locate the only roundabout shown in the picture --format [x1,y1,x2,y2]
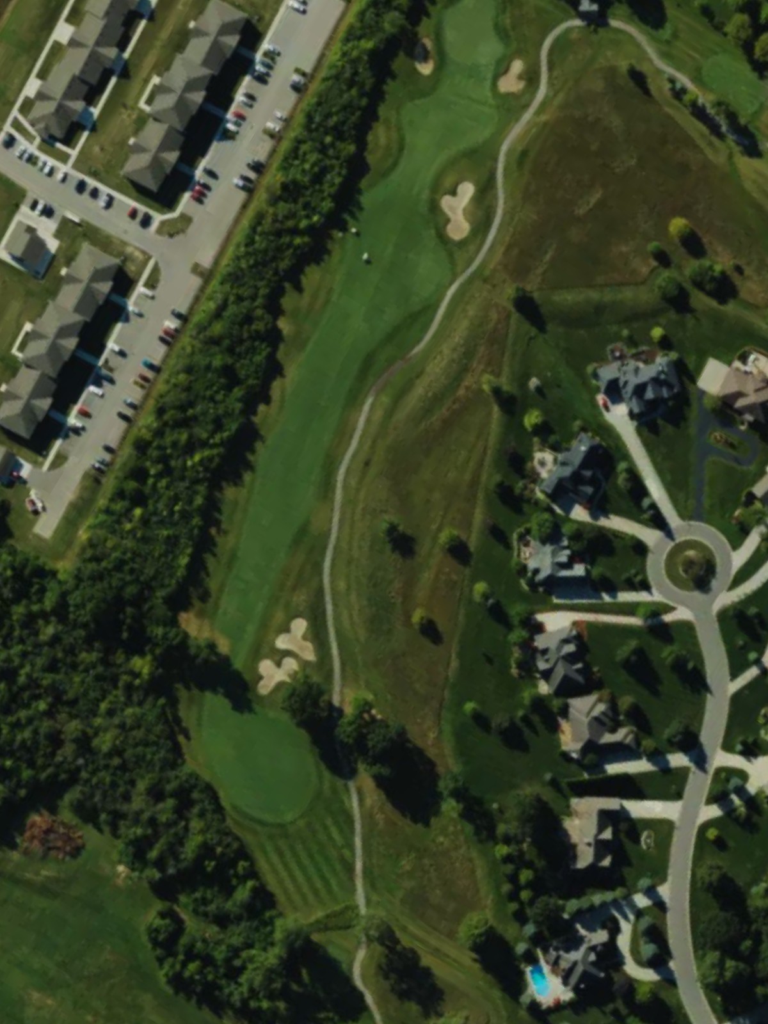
[648,521,733,607]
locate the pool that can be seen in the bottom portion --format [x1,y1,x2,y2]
[526,948,573,1009]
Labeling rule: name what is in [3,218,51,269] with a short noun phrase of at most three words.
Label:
building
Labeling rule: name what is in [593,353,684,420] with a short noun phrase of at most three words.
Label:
house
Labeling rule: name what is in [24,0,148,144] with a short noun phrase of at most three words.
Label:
building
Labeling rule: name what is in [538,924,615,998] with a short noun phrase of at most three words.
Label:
house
